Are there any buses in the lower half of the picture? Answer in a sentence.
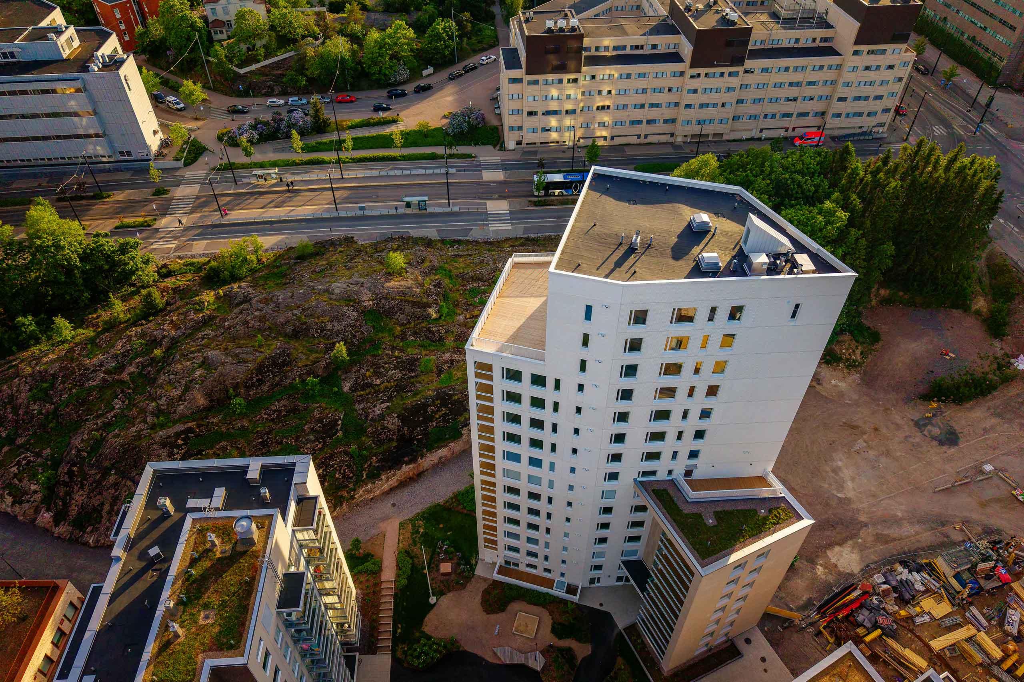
No, the scene shows no bus in the lower half of the picture.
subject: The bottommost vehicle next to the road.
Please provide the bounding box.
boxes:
[533,170,590,195]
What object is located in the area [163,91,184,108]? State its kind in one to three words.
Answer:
vehicle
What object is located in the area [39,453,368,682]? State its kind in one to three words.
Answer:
building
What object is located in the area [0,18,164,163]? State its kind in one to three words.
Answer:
building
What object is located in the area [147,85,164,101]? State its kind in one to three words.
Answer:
car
